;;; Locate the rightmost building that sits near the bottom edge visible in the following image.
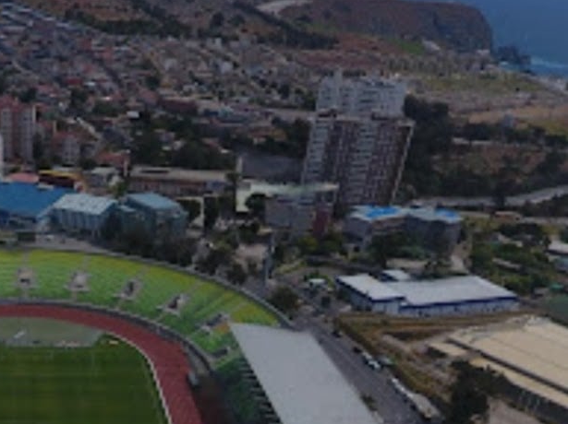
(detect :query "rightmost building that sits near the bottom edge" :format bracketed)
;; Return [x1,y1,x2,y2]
[444,315,568,424]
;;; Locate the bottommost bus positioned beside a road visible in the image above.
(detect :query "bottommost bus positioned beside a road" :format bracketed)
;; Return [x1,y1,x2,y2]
[410,396,438,421]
